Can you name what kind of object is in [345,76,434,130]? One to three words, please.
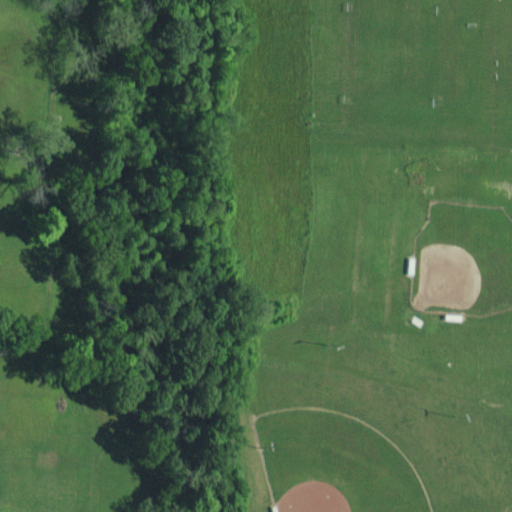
soccer field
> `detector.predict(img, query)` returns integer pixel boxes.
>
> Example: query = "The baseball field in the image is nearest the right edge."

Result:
[410,201,512,318]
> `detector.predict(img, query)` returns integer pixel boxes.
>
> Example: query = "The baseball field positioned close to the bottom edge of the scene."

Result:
[252,406,434,512]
